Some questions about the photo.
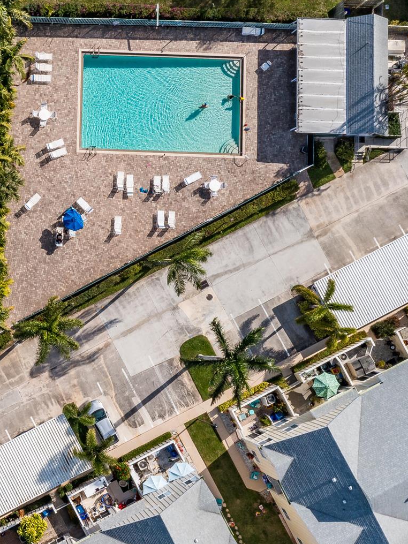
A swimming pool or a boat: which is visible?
swimming pool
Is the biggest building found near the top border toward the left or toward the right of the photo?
right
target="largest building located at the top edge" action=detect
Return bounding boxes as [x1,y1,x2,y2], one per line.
[288,15,388,137]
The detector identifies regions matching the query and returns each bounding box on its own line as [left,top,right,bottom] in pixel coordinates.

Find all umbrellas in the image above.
[141,469,167,494]
[62,207,86,230]
[319,371,347,399]
[168,458,193,482]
